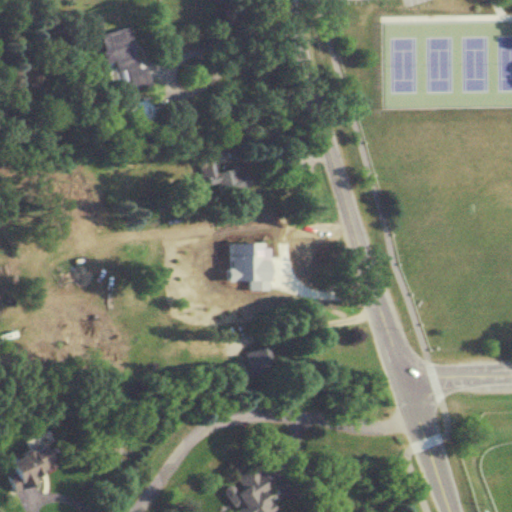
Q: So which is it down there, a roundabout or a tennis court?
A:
tennis court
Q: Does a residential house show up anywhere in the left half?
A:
Yes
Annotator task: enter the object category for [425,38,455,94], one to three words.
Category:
tennis court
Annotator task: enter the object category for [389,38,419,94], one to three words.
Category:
tennis court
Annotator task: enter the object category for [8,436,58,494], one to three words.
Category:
house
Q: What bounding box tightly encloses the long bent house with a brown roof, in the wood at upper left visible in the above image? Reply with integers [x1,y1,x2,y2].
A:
[102,26,156,90]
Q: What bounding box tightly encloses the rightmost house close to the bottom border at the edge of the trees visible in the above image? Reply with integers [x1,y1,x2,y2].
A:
[235,470,280,512]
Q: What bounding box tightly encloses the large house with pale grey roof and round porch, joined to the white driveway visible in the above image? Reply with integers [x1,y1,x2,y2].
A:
[229,242,276,293]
